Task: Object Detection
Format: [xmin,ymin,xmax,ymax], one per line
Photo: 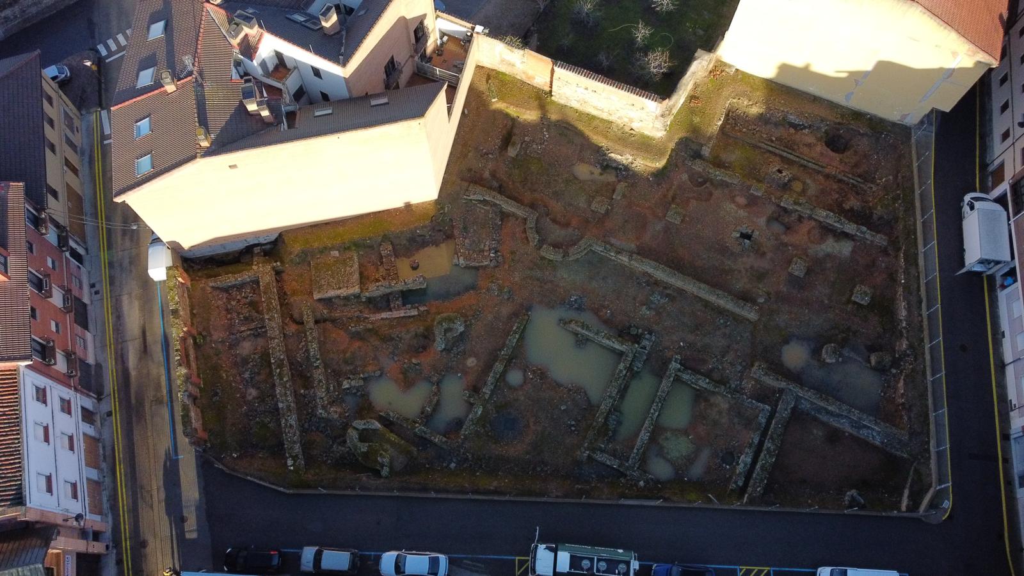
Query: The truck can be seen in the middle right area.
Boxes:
[949,200,1012,286]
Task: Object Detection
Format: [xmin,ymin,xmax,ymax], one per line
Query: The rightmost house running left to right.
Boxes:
[719,0,1024,125]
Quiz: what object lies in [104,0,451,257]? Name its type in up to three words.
house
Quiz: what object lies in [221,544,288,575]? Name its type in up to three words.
car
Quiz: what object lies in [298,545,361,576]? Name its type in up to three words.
car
